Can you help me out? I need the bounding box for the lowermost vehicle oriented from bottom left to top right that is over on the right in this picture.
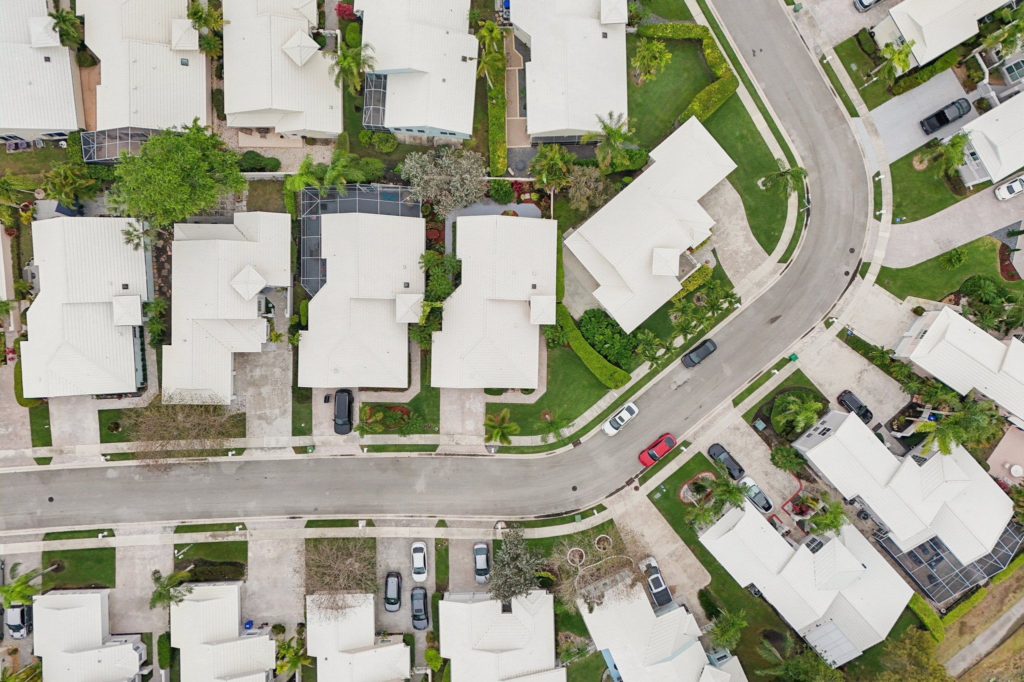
[638,433,677,467]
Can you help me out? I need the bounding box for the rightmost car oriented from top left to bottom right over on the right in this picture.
[834,389,873,426]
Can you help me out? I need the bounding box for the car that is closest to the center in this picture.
[600,401,641,436]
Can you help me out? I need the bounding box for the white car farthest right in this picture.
[991,174,1024,201]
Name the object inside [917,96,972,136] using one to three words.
truck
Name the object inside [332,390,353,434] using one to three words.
car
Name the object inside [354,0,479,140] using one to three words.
house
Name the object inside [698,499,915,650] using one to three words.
house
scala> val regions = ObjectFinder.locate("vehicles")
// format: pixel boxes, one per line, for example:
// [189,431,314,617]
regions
[472,542,492,584]
[679,337,720,370]
[332,390,353,434]
[409,541,429,582]
[641,556,673,609]
[600,401,641,436]
[383,571,403,612]
[6,590,32,639]
[638,433,677,467]
[708,442,746,480]
[738,475,775,515]
[917,96,972,136]
[991,174,1024,201]
[409,586,429,629]
[834,389,873,426]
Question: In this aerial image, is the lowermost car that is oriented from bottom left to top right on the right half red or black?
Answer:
red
